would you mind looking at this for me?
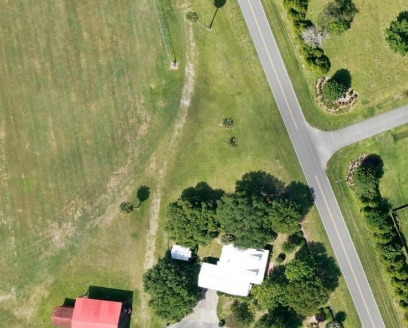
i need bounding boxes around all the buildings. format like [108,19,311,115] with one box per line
[171,245,193,261]
[71,297,128,328]
[200,245,270,297]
